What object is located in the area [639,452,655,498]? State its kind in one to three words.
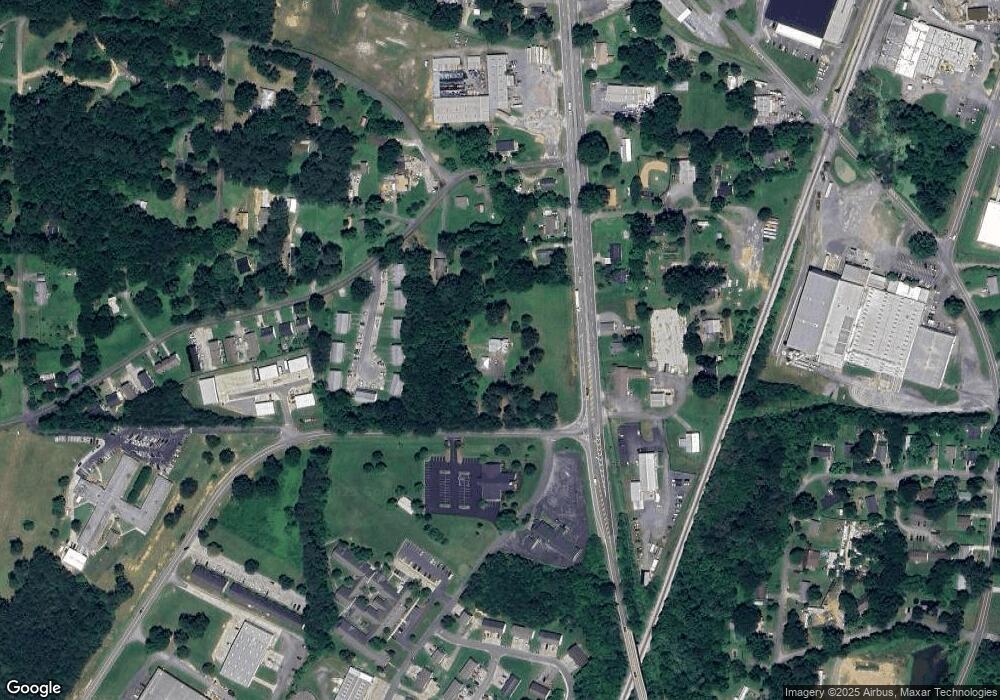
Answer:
building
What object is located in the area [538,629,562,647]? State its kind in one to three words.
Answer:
house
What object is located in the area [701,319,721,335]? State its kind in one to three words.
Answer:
house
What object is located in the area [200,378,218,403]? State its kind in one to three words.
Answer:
building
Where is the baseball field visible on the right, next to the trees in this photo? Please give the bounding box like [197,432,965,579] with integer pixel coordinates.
[628,156,677,197]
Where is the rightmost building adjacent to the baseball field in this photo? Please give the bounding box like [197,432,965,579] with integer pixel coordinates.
[679,160,697,185]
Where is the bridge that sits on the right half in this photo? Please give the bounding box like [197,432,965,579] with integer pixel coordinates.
[622,630,646,700]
